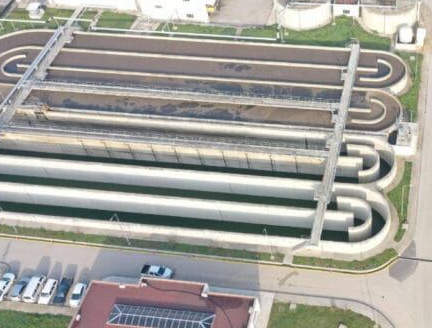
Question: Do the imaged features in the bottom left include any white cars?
Yes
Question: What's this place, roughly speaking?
industrial area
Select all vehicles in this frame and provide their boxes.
[53,275,78,306]
[21,274,49,302]
[38,276,61,305]
[10,276,32,301]
[0,270,16,300]
[69,282,89,307]
[140,264,175,279]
